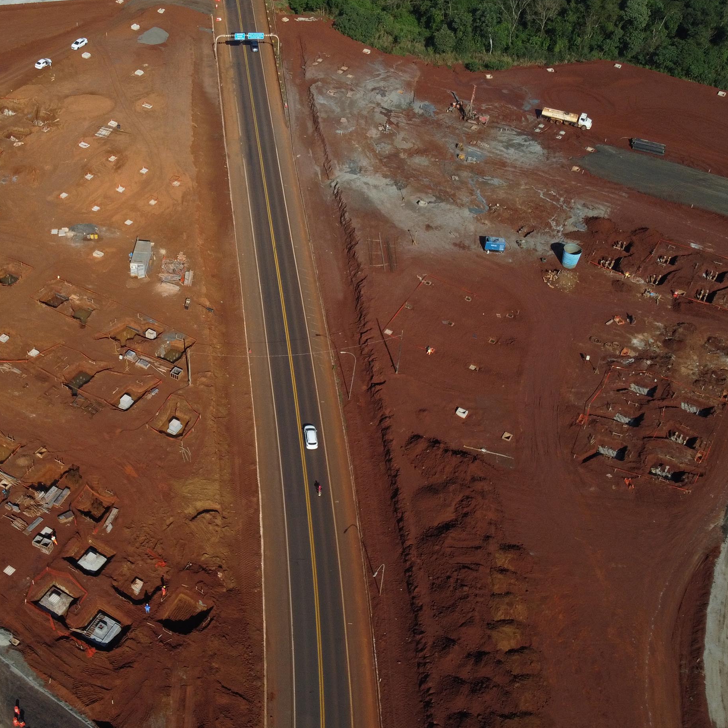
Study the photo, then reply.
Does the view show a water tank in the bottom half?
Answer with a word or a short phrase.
No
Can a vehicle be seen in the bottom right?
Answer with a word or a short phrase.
No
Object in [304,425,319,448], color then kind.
white car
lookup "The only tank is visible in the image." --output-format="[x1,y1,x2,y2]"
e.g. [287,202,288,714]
[558,243,583,269]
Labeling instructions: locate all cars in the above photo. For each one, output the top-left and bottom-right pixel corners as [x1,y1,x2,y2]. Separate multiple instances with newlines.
[70,38,88,50]
[304,425,319,448]
[250,39,259,51]
[33,57,52,67]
